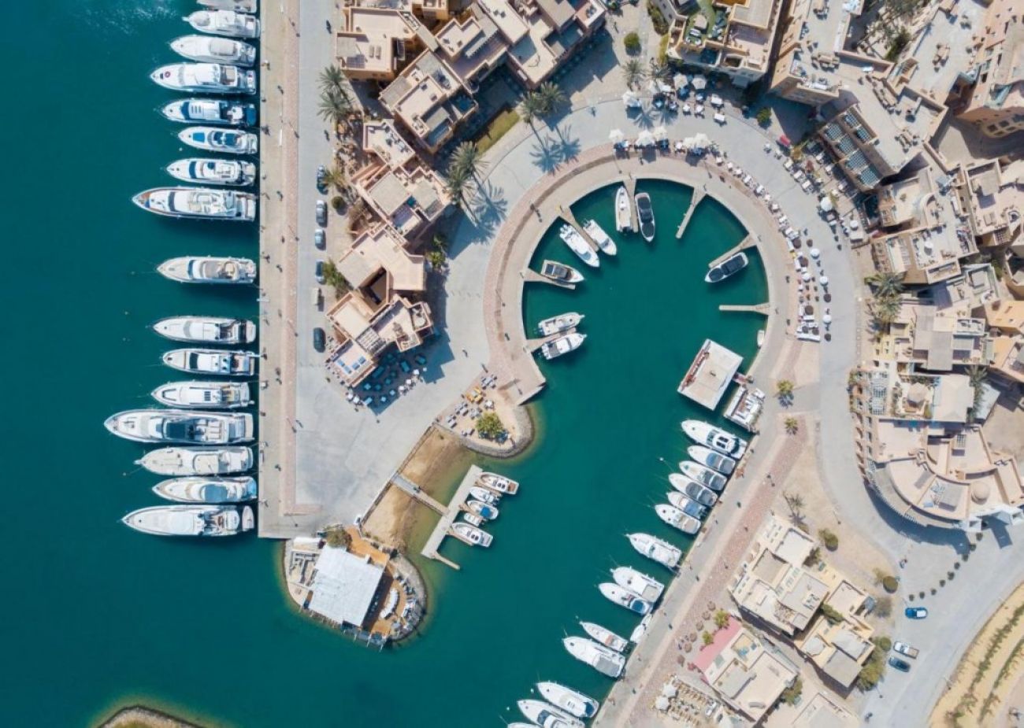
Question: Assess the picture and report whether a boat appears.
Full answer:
Yes, a boat appears in the view.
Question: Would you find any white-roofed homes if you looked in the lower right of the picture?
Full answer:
Yes, you'll find a white-roofed home in the lower right of the picture.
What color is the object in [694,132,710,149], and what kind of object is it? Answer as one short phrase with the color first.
white umbrella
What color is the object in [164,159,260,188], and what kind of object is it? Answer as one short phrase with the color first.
white boat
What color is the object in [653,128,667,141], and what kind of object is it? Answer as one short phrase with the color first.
white umbrella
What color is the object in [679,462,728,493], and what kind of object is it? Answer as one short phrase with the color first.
white boat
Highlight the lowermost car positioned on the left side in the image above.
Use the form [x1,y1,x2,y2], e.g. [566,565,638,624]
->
[312,327,325,352]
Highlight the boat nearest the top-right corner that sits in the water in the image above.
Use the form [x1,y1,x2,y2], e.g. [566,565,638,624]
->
[705,253,750,281]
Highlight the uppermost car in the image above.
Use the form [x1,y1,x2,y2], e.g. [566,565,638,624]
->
[315,166,327,194]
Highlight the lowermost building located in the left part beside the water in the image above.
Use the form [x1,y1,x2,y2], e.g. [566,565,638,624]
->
[294,537,387,626]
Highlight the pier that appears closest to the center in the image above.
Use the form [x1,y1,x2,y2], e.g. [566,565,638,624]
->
[528,327,576,351]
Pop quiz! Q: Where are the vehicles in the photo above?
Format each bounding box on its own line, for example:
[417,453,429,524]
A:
[314,228,325,249]
[312,327,325,352]
[887,655,910,672]
[904,607,926,618]
[892,640,920,659]
[315,261,326,285]
[315,166,327,194]
[315,200,326,224]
